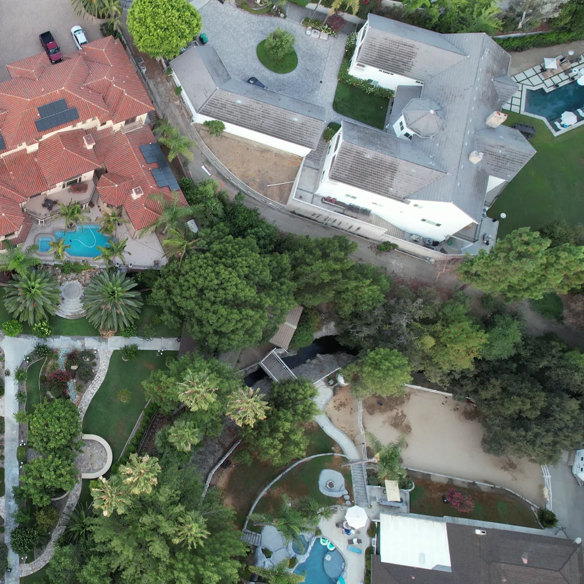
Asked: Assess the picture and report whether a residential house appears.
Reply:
Yes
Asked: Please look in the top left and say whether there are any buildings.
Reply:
Yes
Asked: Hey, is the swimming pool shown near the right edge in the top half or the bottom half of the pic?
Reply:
top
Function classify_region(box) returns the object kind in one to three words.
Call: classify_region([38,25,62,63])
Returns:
truck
